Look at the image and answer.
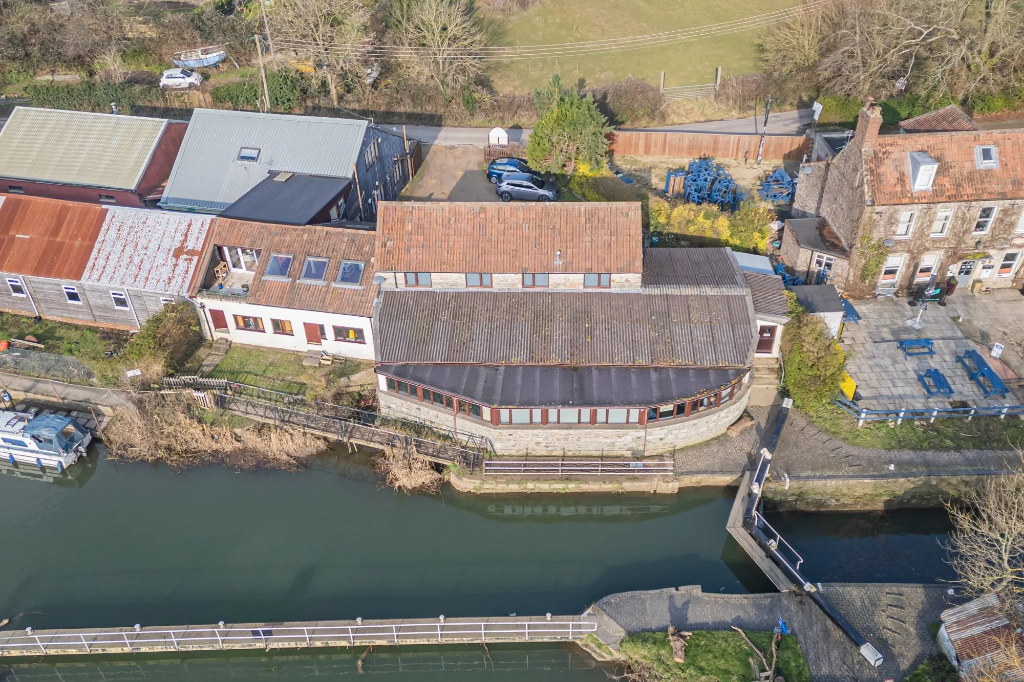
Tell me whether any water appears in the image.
Yes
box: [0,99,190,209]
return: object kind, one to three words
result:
building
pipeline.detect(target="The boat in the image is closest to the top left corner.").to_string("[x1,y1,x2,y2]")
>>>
[155,44,229,65]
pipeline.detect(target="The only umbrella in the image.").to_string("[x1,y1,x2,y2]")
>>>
[904,280,931,329]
